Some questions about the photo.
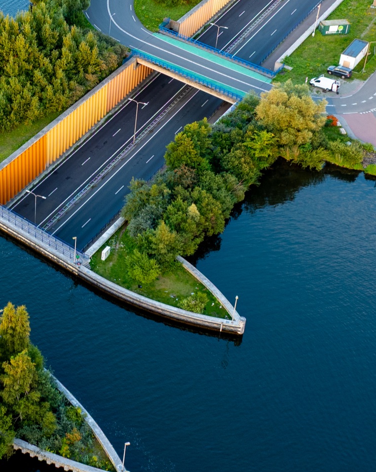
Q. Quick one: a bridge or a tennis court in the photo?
bridge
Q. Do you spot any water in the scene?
Yes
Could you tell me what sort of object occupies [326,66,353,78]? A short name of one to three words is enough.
vehicle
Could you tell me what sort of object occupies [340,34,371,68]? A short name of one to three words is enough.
building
